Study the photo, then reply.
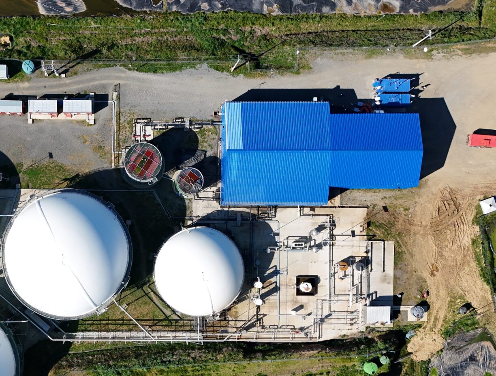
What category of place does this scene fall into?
industrial area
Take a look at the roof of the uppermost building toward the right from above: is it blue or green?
blue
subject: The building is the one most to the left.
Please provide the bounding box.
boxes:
[0,99,24,118]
